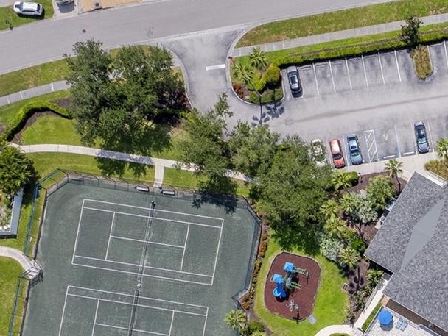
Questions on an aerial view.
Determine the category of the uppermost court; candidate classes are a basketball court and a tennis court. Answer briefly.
tennis court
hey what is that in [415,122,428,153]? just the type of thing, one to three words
vehicle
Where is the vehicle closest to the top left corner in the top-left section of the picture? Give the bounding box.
[15,0,45,17]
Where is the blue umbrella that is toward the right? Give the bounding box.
[378,308,393,323]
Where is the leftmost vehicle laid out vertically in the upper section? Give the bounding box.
[287,64,302,94]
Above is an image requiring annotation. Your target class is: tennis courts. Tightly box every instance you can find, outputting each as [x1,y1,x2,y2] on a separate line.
[20,273,242,336]
[36,182,260,297]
